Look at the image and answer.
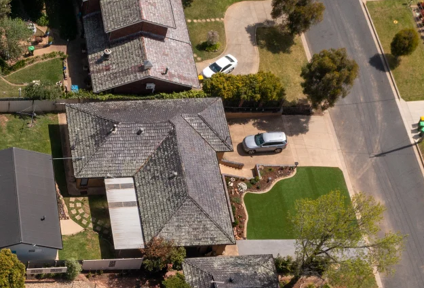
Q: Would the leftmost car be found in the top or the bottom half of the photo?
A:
top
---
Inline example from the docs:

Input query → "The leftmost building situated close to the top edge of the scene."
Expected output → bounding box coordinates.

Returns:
[75,0,201,101]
